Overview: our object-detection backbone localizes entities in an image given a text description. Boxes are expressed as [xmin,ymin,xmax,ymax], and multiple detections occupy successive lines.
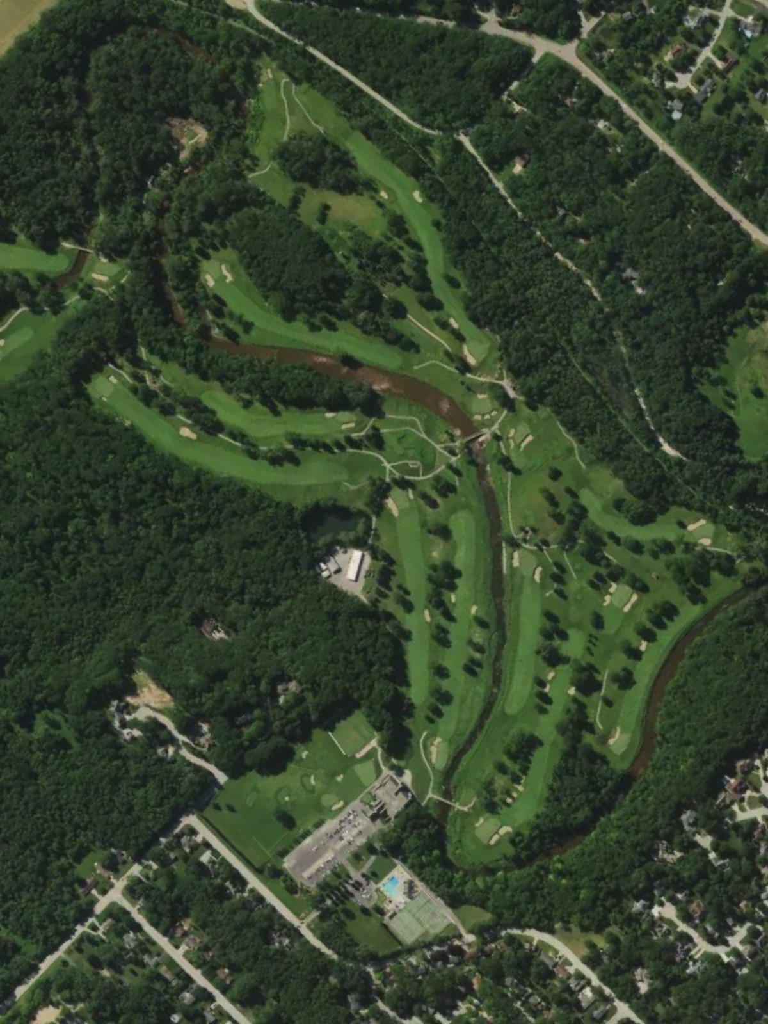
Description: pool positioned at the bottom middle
[378,865,420,911]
